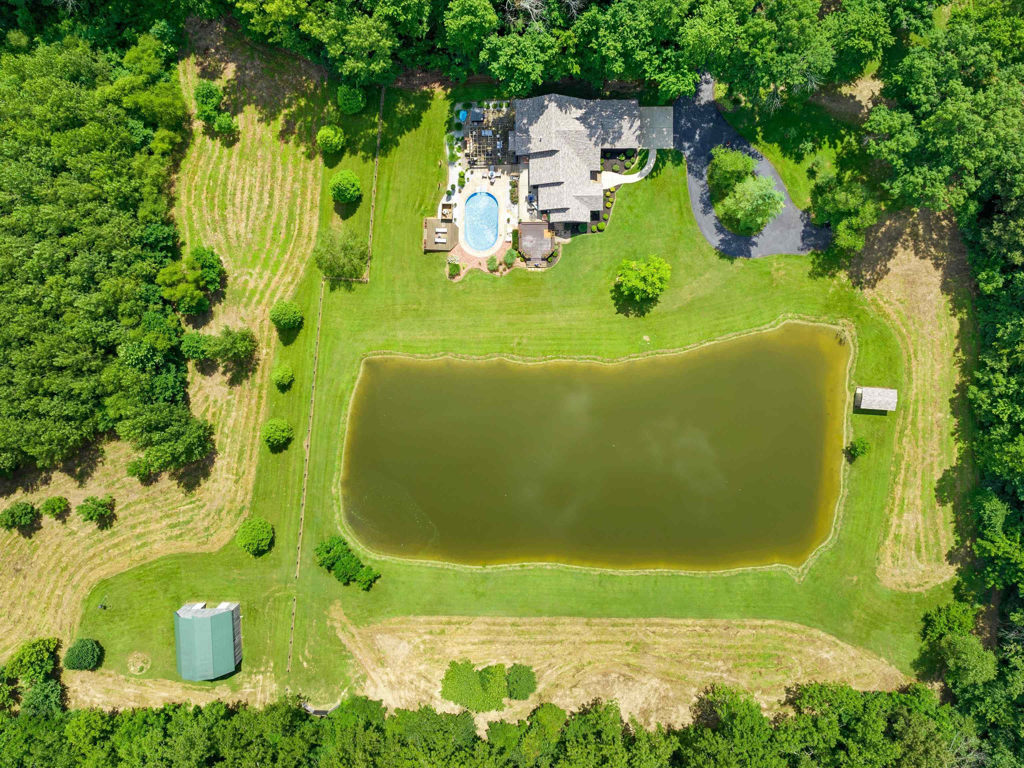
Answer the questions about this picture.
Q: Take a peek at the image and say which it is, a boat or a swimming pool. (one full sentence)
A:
There is a swimming pool in the scene.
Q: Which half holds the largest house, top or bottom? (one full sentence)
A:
It is in the top half that the largest house appears.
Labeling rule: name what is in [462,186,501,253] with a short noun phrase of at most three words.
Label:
swimming pool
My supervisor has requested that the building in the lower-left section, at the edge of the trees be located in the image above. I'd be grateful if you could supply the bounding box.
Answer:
[174,603,242,681]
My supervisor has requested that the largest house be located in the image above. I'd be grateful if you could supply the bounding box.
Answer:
[508,93,640,224]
